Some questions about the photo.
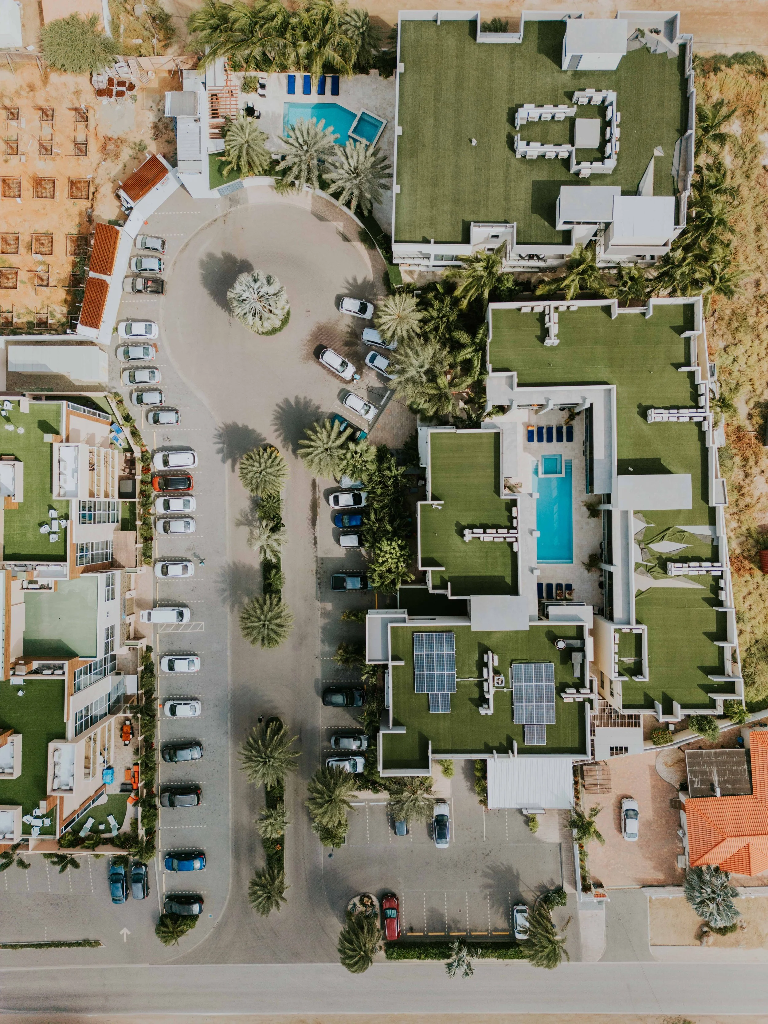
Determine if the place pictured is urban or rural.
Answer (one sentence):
The area shown here is urban.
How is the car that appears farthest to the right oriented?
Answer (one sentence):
In this picture, the car that appears farthest to the right lies from top to bottom.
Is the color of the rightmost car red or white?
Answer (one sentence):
In this view, the rightmost car is white.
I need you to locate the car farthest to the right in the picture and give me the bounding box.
[620,797,641,841]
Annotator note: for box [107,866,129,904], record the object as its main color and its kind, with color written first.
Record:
blue car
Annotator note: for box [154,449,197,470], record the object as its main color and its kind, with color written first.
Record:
white car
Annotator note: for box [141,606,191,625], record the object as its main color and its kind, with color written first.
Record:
white vehicle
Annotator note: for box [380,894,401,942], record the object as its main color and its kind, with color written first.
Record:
red car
